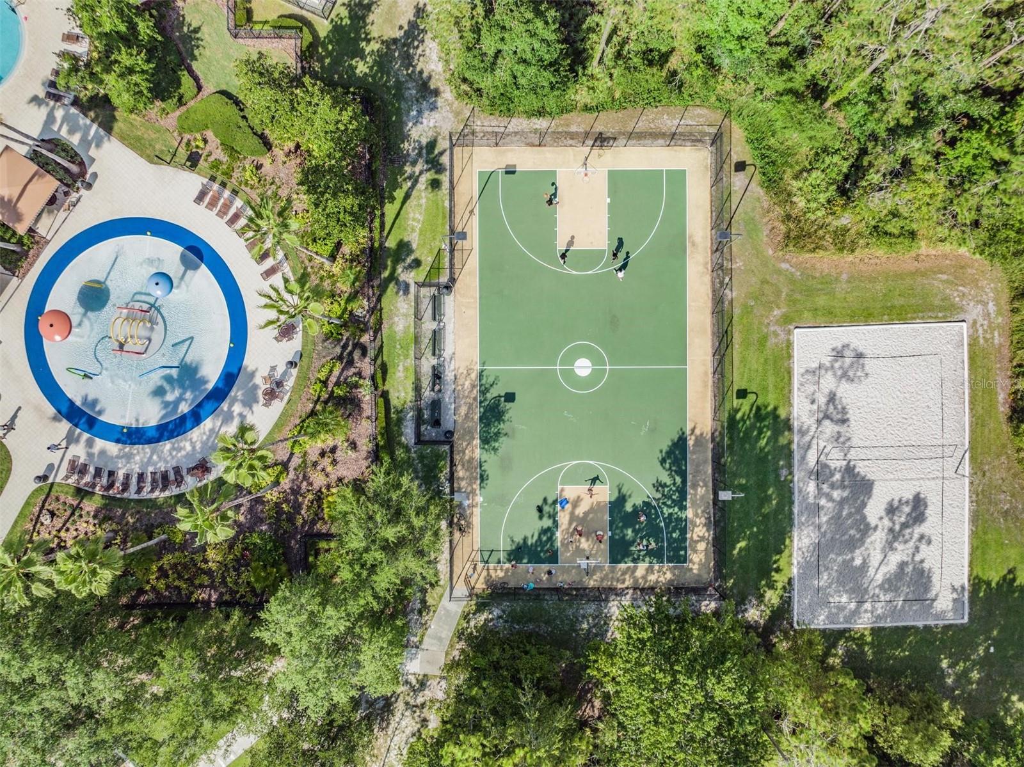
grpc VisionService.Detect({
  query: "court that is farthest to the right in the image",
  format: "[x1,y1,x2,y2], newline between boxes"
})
[795,322,970,627]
